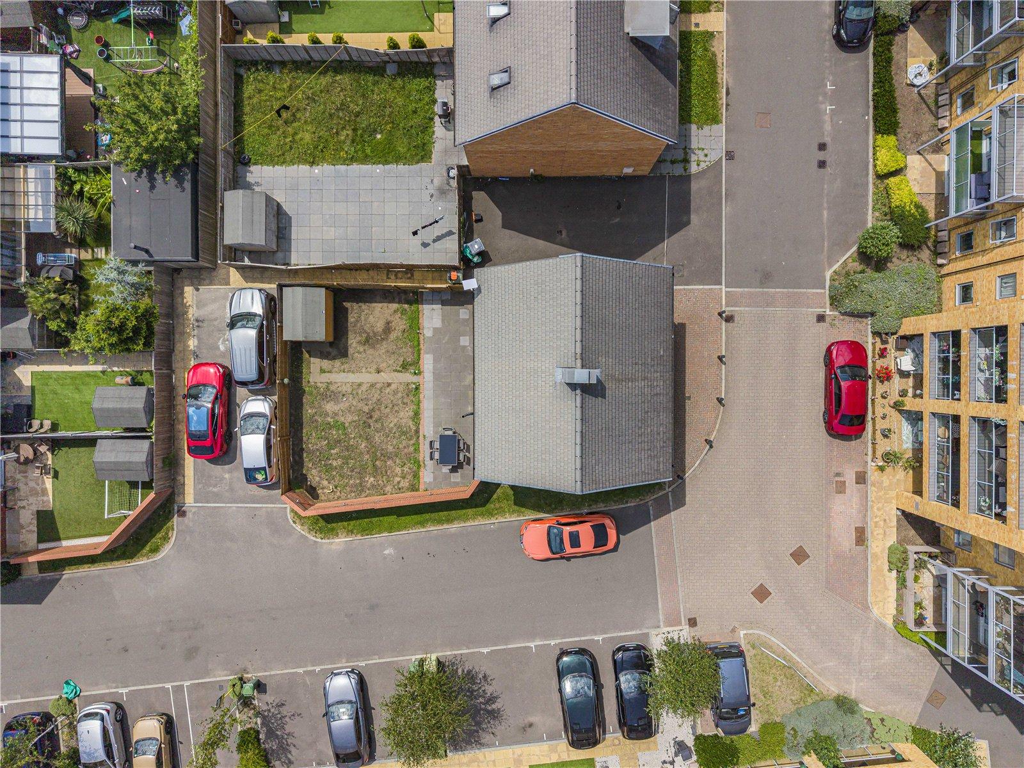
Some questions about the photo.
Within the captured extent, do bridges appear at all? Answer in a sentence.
No, the scene contains no bridge.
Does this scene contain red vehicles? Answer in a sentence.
Yes, a red vehicle is visible in the scene.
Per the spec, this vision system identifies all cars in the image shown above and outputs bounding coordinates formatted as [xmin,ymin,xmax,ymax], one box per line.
[706,637,756,732]
[327,662,376,764]
[560,642,605,746]
[824,340,874,436]
[835,0,884,49]
[79,689,131,768]
[519,516,617,563]
[127,702,180,768]
[233,397,276,483]
[226,288,276,387]
[179,364,230,459]
[613,635,658,738]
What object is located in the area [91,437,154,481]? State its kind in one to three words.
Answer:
shed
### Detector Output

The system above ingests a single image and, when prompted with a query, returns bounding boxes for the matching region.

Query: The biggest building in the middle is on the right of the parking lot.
[471,252,675,494]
